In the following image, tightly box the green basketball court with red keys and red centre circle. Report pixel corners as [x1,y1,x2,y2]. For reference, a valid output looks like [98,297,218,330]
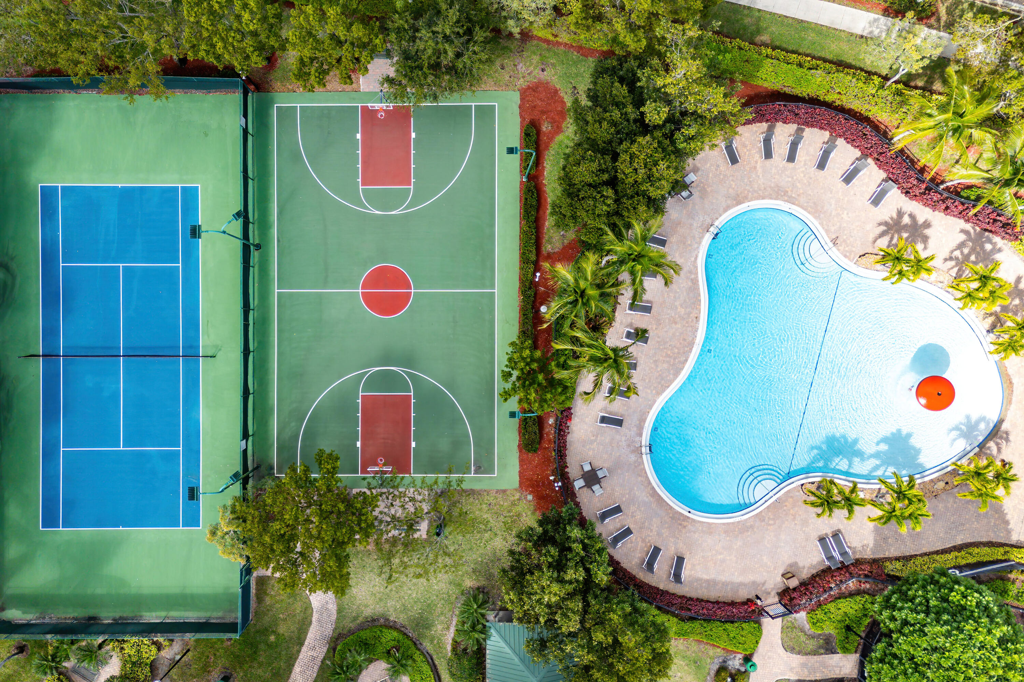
[253,90,520,489]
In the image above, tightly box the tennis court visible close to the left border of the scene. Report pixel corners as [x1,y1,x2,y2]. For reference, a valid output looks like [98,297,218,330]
[0,91,253,620]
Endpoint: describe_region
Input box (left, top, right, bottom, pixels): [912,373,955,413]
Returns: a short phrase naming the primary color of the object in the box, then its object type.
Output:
orange fountain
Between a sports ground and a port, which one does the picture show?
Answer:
sports ground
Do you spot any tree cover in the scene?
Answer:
Yes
